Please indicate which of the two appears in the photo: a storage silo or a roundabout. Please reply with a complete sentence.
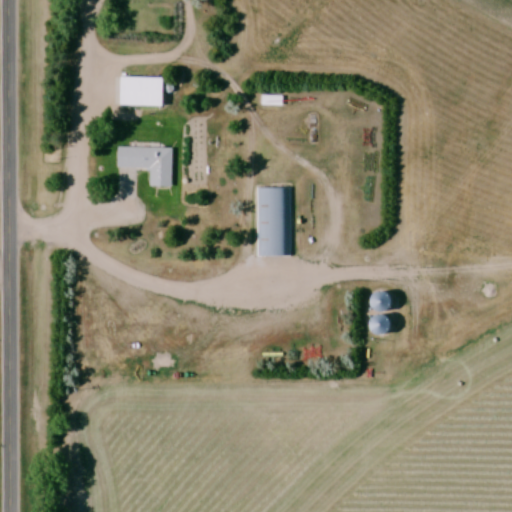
Of the two, only a storage silo appears.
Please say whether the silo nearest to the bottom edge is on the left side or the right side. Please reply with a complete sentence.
You can find the silo nearest to the bottom edge on the right side of the picture.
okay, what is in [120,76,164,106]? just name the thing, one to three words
building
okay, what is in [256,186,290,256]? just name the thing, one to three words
barn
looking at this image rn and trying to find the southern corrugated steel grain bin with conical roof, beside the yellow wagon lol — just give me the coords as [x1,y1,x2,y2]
[369,313,393,336]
